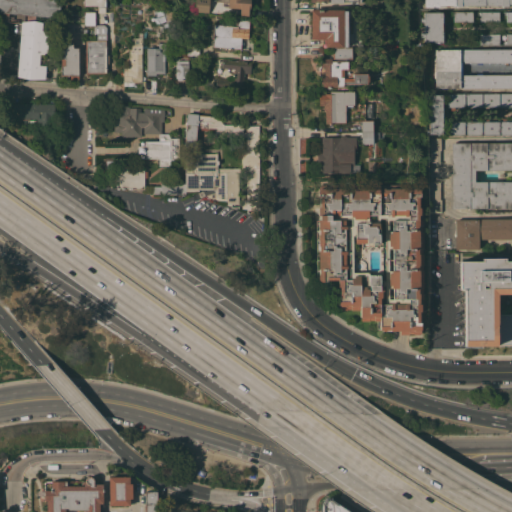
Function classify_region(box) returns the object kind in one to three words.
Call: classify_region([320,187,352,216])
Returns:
house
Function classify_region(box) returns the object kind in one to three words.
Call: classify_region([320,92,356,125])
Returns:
house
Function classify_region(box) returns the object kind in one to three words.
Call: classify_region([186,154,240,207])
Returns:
building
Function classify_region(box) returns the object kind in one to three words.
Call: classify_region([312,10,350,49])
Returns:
building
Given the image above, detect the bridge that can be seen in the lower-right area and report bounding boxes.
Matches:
[232,404,512,512]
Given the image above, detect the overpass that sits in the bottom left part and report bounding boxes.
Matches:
[24,342,114,442]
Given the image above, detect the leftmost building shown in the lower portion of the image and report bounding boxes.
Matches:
[46,476,105,512]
